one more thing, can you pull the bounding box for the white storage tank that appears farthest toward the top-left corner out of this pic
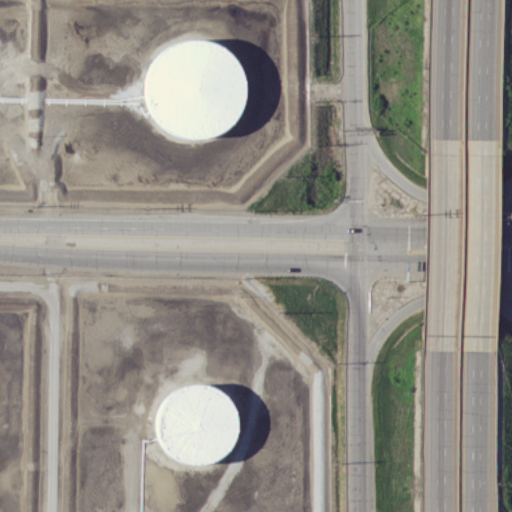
[144,40,250,142]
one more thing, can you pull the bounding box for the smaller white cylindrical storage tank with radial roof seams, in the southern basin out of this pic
[154,384,240,467]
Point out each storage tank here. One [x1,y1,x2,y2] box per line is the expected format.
[154,384,240,467]
[144,40,250,142]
